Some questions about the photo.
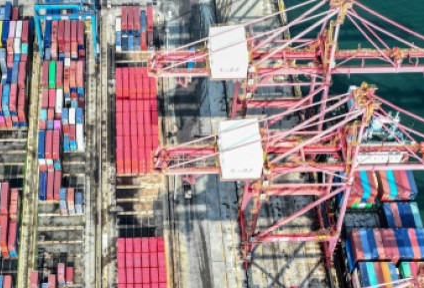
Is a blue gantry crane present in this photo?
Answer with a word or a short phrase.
Yes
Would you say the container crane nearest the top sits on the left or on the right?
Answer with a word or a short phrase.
left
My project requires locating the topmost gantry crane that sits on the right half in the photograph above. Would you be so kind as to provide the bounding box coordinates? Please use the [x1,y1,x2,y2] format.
[148,0,424,169]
